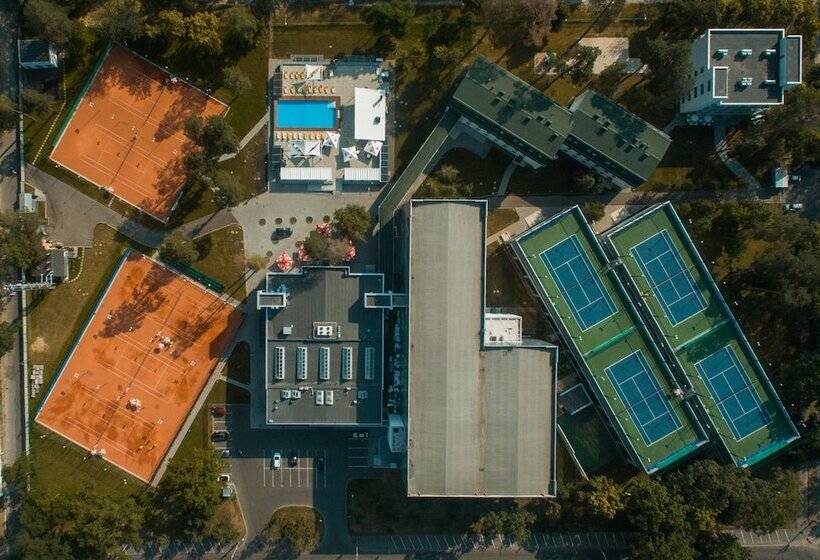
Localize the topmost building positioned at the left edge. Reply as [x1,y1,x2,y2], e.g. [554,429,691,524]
[19,39,58,67]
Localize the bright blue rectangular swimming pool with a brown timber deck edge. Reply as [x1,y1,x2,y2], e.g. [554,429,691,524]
[274,95,340,131]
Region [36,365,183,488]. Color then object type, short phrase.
orange tennis court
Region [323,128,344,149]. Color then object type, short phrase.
white umbrella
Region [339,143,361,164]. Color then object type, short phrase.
white umbrella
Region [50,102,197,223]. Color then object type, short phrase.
orange tennis court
